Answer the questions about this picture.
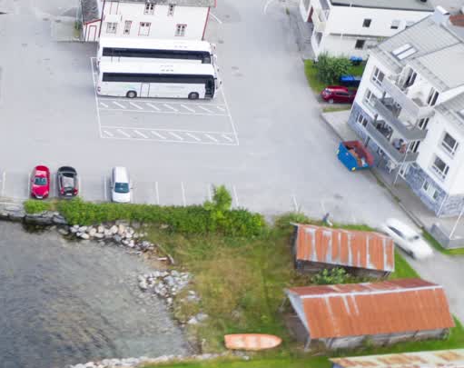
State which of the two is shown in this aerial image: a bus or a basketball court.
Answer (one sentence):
There is a bus in the scene.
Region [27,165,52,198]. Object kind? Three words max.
car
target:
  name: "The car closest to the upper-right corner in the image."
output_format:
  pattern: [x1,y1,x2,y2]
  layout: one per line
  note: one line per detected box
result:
[318,83,360,103]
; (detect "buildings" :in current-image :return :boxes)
[78,0,216,45]
[278,278,462,353]
[348,11,464,216]
[328,351,464,368]
[288,221,397,277]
